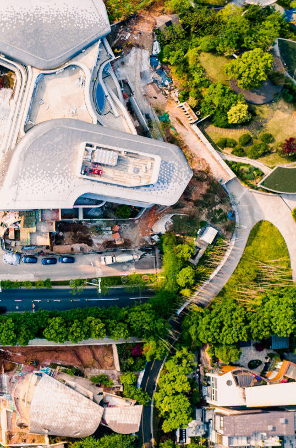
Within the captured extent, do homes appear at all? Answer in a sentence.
Yes, I can see a home in this picture.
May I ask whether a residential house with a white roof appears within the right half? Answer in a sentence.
Yes, I can see a residential house with a white roof within the right half.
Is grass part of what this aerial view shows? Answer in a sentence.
Yes, the picture does contain grass.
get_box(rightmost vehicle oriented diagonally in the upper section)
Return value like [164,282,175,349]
[113,40,133,54]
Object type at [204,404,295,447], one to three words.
house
